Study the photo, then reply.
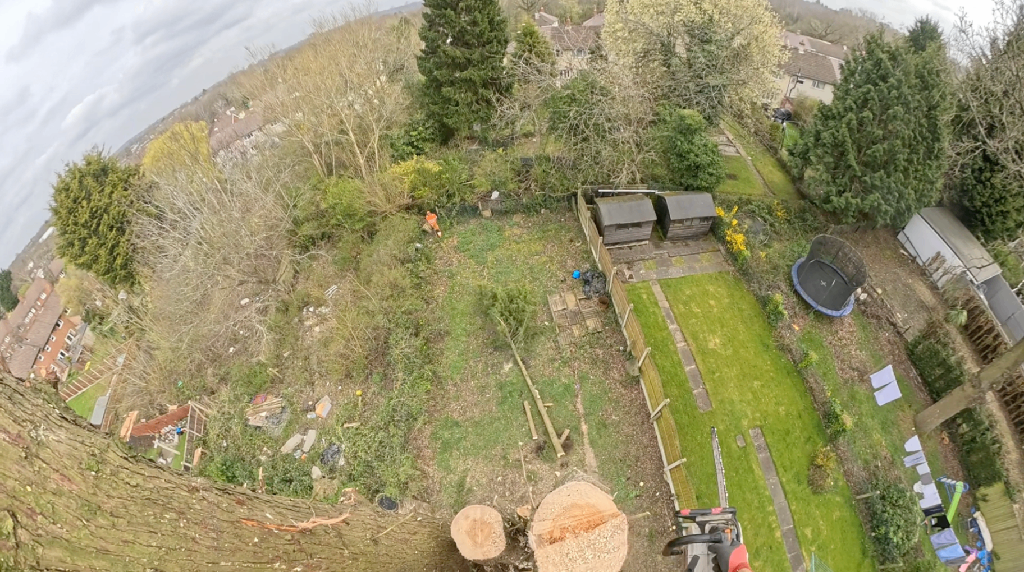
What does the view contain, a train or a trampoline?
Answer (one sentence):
It is a trampoline that can be seen here.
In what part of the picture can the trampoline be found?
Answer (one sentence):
You can find the trampoline in the right area of the picture.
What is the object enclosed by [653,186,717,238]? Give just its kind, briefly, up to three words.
shed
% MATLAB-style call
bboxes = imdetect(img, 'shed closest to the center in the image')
[592,192,659,244]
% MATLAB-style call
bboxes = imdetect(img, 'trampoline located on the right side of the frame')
[785,232,874,320]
